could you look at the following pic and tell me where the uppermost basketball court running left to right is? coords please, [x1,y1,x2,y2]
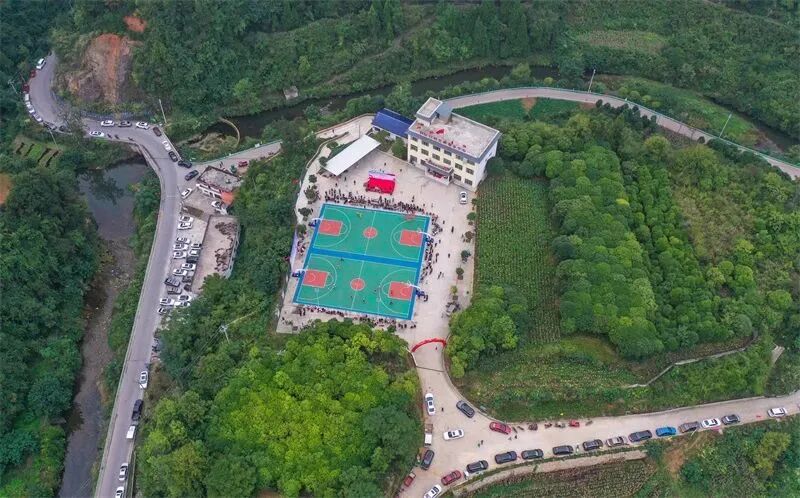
[313,206,426,262]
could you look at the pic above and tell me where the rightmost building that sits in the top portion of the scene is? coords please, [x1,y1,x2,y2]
[406,96,503,191]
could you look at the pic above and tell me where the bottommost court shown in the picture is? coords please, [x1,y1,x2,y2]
[297,253,417,317]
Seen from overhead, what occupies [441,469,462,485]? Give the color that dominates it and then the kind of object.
red car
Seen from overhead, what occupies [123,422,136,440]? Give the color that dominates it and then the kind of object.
white vehicle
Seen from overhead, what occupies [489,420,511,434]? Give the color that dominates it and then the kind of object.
red car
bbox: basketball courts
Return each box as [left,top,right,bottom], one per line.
[313,206,426,262]
[297,253,417,317]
